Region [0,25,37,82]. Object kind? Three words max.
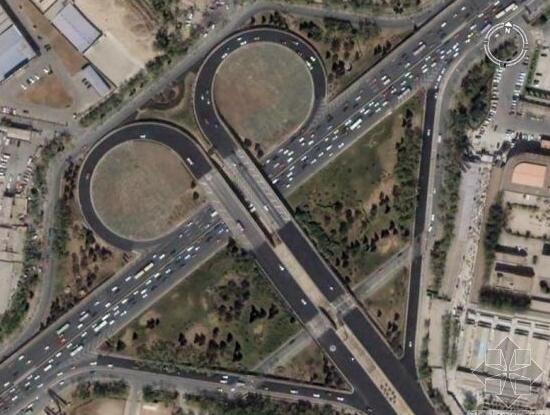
building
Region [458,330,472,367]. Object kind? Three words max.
shed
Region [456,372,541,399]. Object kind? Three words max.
shed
